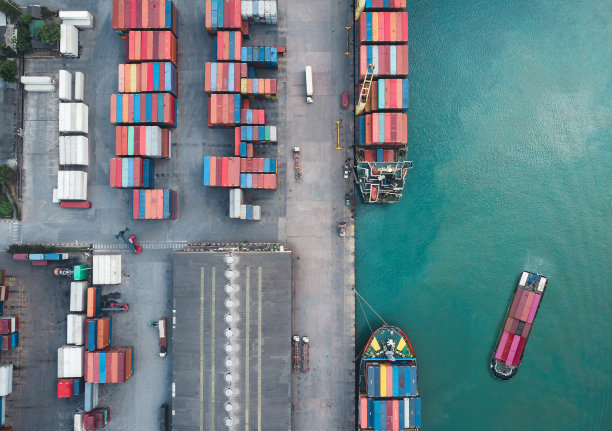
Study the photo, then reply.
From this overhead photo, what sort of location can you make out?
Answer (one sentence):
The area seen from above is a port.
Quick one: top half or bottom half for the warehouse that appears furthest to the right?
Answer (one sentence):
The warehouse that appears furthest to the right sits in the bottom half of the picture.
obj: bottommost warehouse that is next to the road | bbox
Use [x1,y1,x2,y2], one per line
[170,249,292,431]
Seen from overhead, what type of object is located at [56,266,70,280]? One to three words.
vehicle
